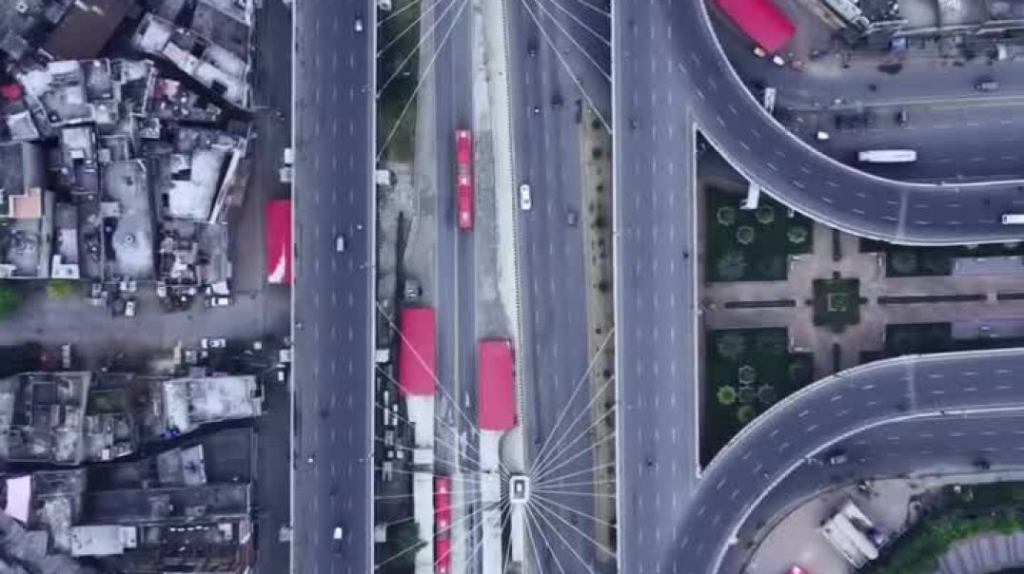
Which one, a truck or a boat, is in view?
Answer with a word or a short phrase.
truck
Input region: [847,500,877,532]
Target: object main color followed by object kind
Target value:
white truck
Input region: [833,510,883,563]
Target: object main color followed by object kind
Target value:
white truck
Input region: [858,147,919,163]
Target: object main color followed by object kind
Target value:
white vehicle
